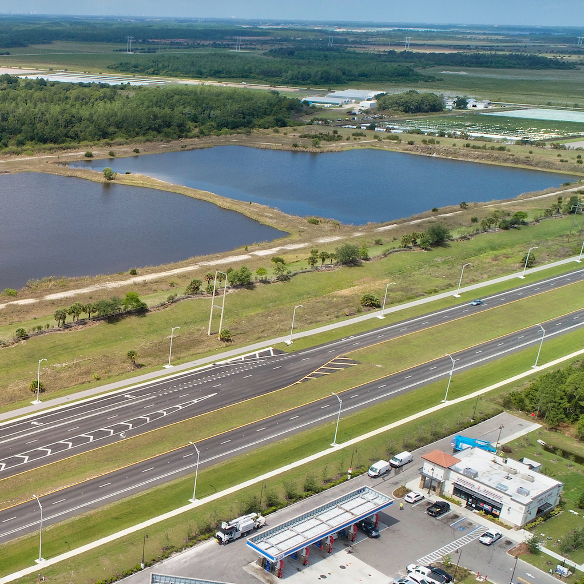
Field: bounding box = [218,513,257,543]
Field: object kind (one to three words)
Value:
truck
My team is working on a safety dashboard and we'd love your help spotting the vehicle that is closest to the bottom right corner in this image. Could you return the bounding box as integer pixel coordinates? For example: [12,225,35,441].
[479,527,506,543]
